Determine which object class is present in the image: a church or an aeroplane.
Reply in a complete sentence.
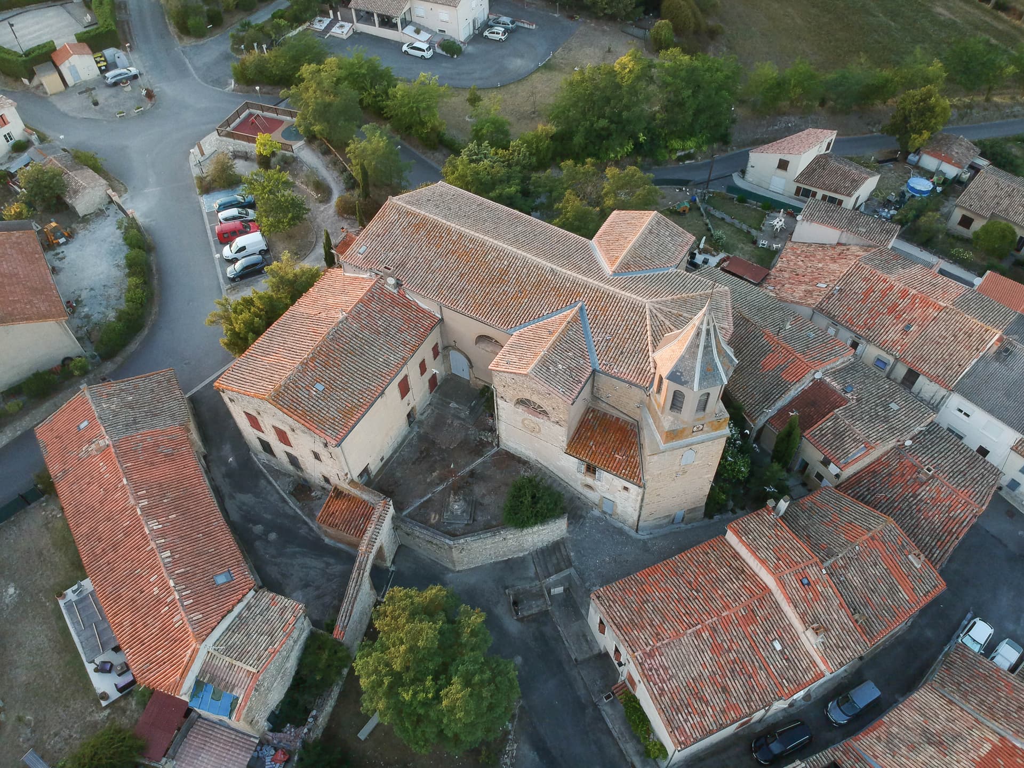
Visible in the photo is a church.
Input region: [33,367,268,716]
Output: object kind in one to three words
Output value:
house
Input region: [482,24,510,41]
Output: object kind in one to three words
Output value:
car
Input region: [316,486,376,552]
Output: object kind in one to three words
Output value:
shed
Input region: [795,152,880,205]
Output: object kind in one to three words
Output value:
house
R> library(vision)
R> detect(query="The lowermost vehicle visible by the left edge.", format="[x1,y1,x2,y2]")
[39,219,73,245]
